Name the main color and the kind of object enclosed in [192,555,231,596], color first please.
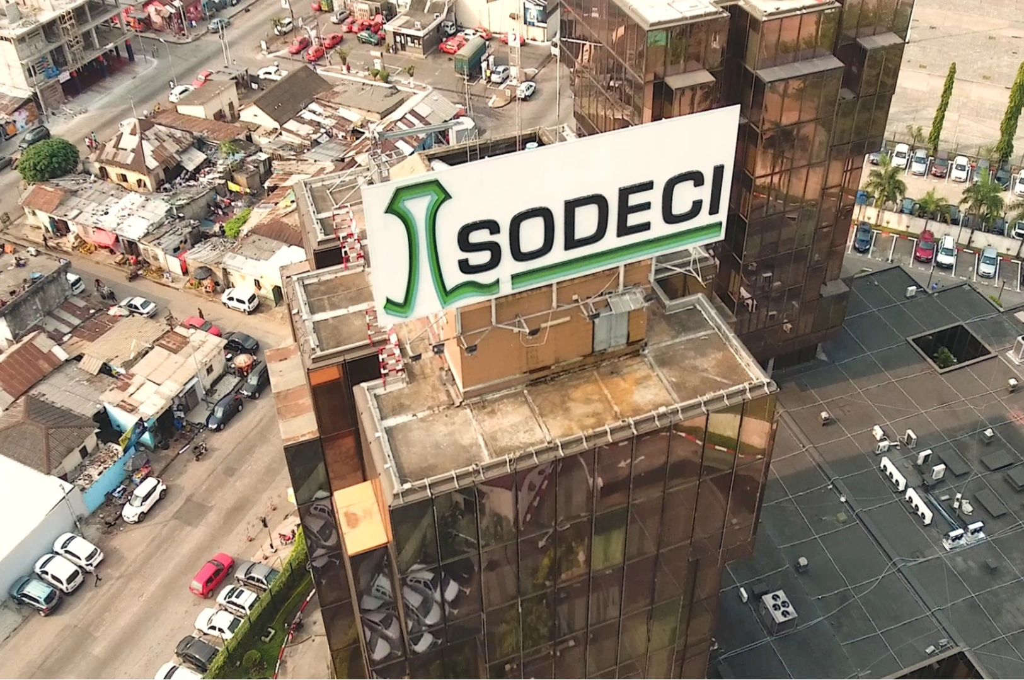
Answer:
red car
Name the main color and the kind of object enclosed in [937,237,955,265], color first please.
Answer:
white car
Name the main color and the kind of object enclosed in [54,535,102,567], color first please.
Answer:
white car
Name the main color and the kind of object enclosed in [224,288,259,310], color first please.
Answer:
white vehicle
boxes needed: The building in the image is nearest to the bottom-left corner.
[0,453,84,601]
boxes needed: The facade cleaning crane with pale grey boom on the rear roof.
[379,112,490,173]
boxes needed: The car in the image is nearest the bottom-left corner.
[10,579,61,614]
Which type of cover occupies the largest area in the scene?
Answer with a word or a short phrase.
buildings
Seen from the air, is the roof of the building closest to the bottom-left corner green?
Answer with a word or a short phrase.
No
